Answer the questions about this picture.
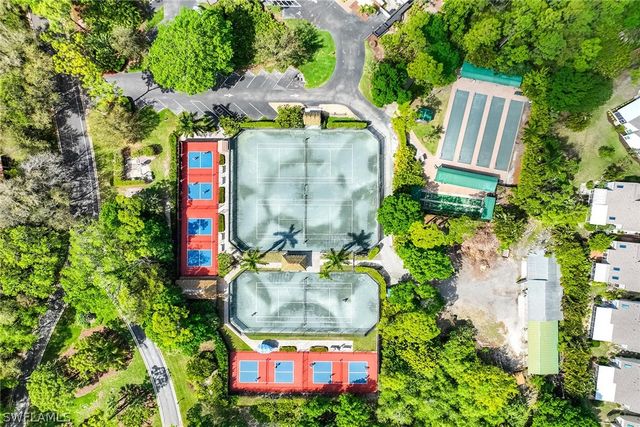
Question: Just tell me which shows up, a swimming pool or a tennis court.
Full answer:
Visible in the photo is a tennis court.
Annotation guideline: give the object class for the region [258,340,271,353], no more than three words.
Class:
umbrella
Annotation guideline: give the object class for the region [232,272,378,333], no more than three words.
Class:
tennis court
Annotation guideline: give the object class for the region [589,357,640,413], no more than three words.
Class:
house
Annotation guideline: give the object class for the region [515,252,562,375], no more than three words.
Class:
barn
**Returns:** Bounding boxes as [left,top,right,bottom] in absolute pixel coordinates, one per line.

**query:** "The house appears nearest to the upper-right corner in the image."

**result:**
[607,94,640,154]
